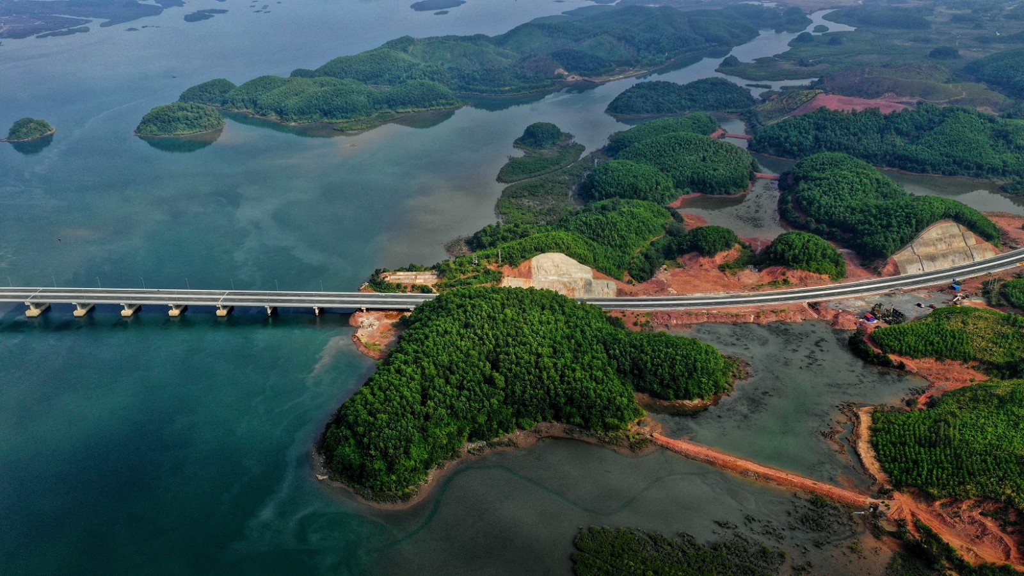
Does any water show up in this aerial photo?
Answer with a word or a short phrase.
Yes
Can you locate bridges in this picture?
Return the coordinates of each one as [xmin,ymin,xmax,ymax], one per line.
[0,286,423,321]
